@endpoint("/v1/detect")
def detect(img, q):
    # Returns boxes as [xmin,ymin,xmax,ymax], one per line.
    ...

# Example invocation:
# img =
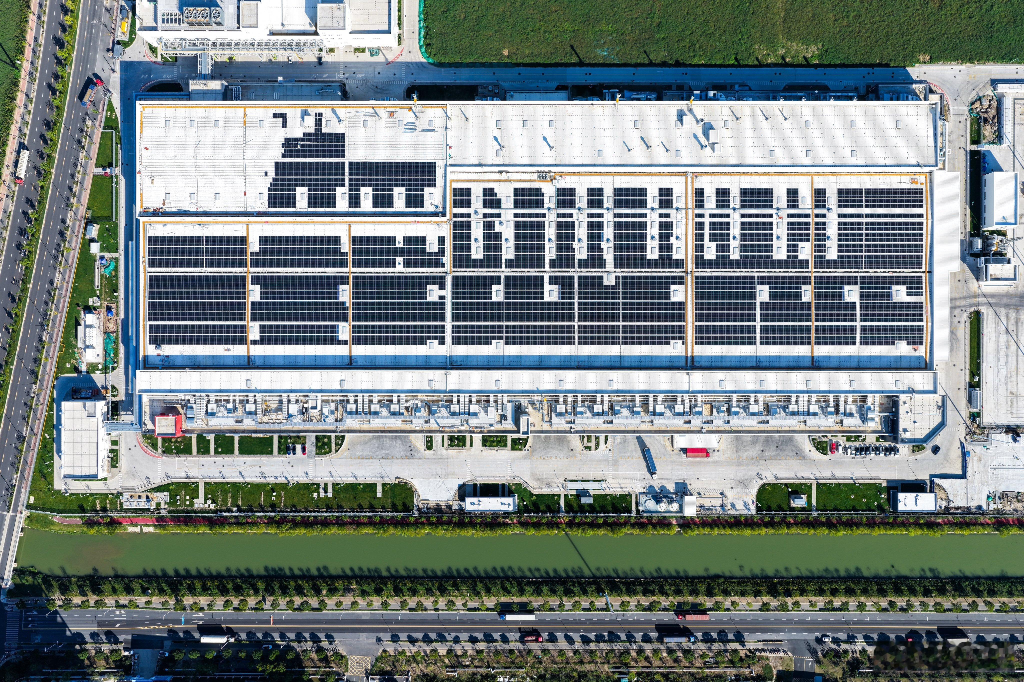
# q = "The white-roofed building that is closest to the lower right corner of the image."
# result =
[888,489,937,512]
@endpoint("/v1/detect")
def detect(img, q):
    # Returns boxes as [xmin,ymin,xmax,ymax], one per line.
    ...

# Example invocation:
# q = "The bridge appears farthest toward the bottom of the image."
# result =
[0,510,25,584]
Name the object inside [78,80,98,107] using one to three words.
vehicle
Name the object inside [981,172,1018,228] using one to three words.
building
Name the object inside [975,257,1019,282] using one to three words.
building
